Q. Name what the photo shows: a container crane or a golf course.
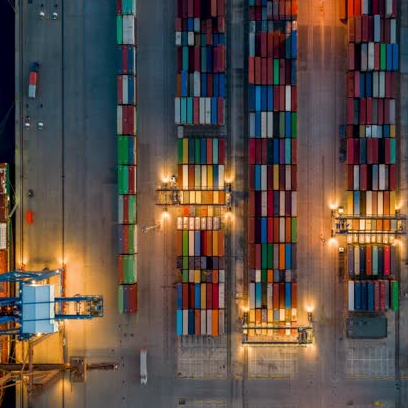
container crane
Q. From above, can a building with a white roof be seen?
No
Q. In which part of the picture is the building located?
bottom right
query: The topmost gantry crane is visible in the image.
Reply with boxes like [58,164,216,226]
[156,182,232,211]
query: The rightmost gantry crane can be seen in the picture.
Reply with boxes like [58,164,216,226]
[331,210,407,238]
